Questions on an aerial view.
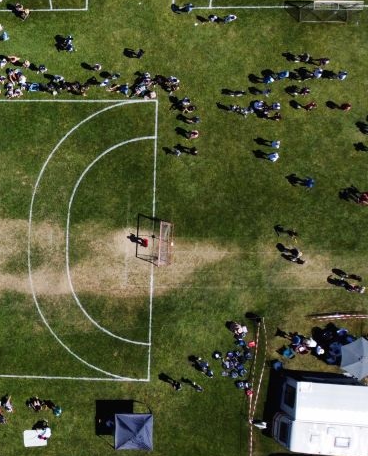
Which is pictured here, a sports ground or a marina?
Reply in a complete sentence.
This image shows a sports ground.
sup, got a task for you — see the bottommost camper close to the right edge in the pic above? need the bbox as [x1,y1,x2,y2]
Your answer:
[251,411,368,456]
